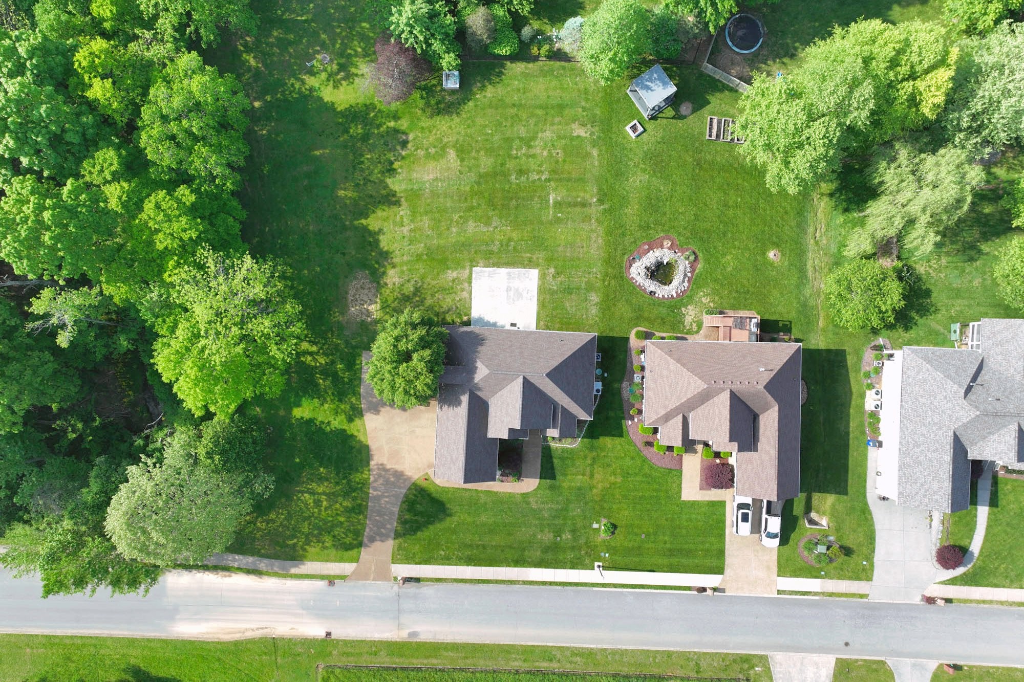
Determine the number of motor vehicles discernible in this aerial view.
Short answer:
2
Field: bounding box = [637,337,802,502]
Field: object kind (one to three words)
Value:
house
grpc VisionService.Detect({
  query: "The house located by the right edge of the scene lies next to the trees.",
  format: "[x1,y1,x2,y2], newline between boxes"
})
[873,318,1024,514]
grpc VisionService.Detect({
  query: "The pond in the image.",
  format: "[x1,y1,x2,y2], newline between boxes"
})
[625,235,700,300]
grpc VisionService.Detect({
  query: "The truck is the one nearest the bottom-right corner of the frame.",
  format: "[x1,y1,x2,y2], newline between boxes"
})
[758,499,784,548]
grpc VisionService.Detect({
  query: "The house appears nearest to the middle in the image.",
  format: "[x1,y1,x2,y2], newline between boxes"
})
[433,324,598,484]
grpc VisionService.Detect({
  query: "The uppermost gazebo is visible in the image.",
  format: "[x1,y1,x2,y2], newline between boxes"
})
[626,63,677,118]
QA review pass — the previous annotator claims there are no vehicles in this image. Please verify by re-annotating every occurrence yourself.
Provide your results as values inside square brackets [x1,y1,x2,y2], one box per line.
[731,491,756,537]
[758,499,784,548]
